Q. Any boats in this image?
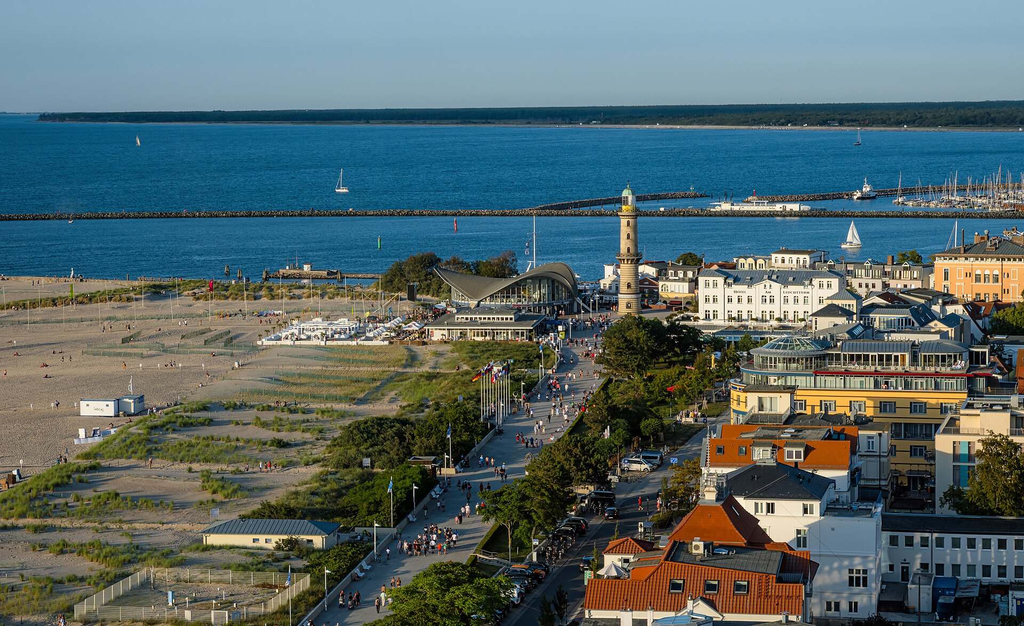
Yes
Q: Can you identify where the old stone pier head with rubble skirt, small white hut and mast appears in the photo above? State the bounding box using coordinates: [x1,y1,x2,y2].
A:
[268,251,386,280]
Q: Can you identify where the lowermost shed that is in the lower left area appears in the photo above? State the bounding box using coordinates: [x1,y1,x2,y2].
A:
[197,517,347,549]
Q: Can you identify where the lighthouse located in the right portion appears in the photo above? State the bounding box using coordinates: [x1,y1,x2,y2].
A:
[615,181,641,314]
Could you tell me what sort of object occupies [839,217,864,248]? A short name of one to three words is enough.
boat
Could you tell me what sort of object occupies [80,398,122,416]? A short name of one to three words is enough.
building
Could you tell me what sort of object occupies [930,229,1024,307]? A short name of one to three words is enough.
building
